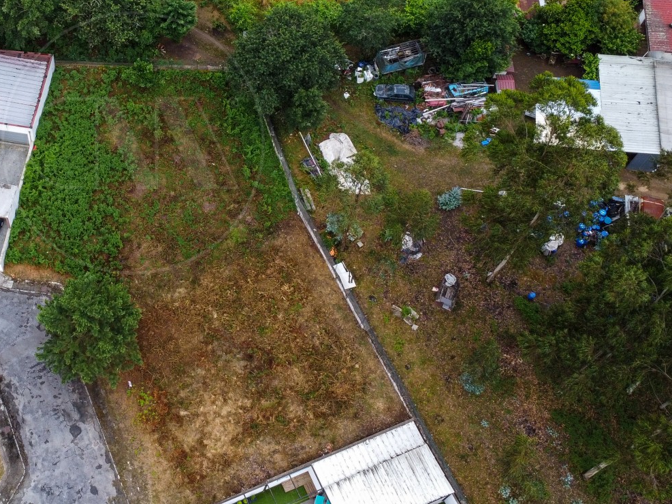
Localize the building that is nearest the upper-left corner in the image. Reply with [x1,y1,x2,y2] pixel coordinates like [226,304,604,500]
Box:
[0,49,57,147]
